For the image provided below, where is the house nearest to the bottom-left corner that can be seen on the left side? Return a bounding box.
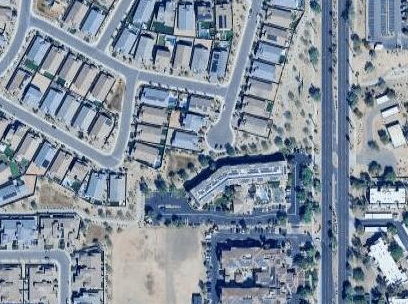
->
[0,265,23,302]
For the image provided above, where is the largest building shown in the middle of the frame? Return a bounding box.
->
[188,159,289,204]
